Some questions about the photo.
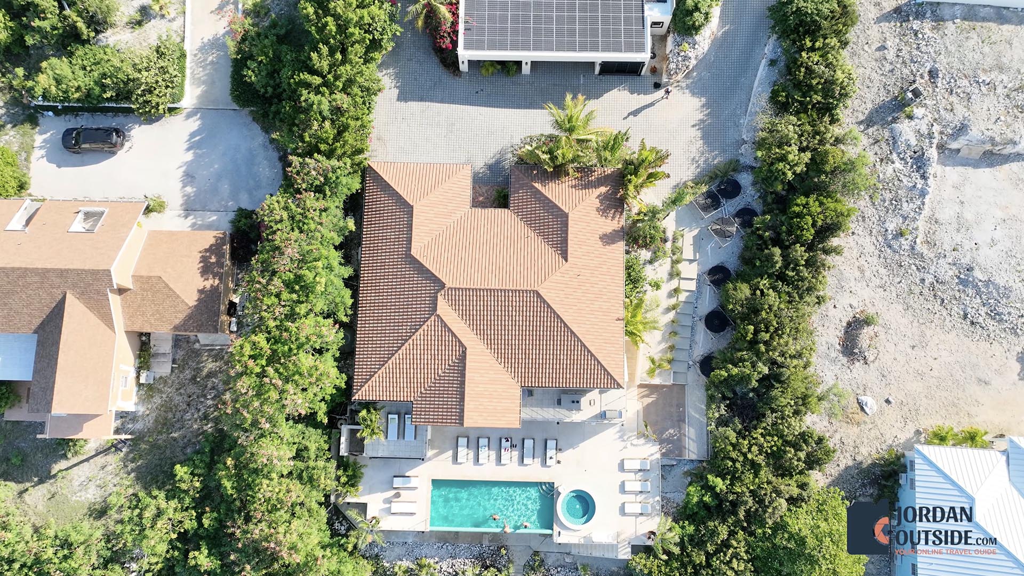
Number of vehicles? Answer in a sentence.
The picture shows 1 vehicle.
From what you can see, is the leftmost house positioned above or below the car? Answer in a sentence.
Within the scene, the leftmost house can be found below the car.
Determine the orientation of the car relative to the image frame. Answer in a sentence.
Seen from above, the car lies from side to side.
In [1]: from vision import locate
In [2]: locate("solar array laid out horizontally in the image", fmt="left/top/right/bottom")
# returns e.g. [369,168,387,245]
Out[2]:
[464,0,647,53]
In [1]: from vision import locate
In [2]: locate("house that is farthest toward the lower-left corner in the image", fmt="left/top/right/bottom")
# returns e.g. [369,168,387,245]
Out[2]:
[0,197,235,415]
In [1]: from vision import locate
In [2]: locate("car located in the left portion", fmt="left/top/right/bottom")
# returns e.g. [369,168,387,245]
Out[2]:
[56,123,122,155]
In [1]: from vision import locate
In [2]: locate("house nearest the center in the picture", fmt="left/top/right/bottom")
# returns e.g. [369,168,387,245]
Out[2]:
[351,160,626,457]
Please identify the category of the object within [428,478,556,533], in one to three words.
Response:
swimming pool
